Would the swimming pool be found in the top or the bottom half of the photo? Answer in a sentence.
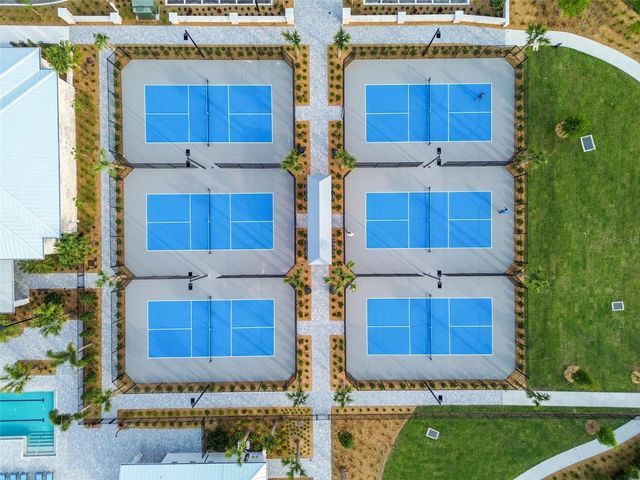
The swimming pool sits in the bottom half of the picture.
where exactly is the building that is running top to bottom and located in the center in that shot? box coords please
[308,175,331,264]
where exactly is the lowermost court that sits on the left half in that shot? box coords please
[124,275,296,382]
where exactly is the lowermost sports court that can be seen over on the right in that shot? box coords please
[344,274,516,381]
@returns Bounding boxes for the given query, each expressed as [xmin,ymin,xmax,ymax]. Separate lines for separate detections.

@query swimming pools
[0,390,56,457]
